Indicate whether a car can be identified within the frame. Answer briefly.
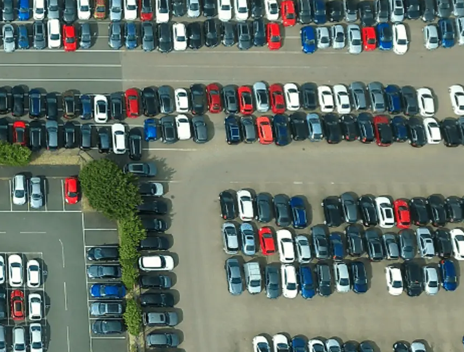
Yes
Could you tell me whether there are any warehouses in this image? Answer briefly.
No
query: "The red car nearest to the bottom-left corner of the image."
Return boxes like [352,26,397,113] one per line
[11,291,25,320]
